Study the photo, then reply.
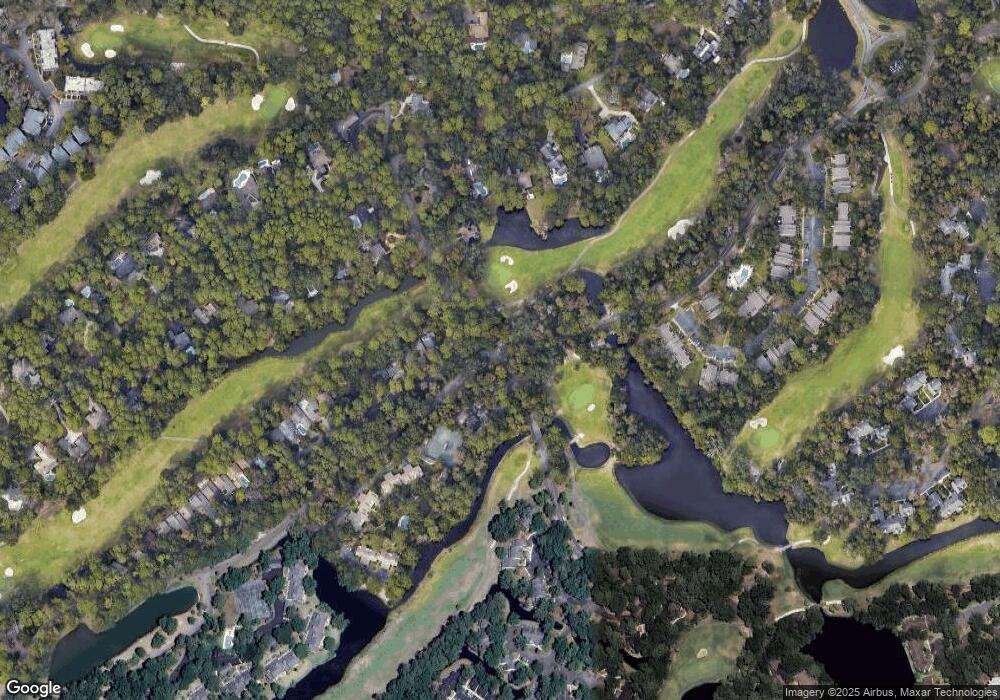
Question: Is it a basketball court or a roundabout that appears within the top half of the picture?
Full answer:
Looking within the top half of the picture, you will find a roundabout.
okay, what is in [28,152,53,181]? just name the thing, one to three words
house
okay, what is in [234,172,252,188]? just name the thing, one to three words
swimming pool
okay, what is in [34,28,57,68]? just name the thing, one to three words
building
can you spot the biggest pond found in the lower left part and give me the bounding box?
[49,586,199,686]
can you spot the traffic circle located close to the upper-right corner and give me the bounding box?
[861,30,931,104]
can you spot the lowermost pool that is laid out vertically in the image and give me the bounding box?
[223,627,236,650]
